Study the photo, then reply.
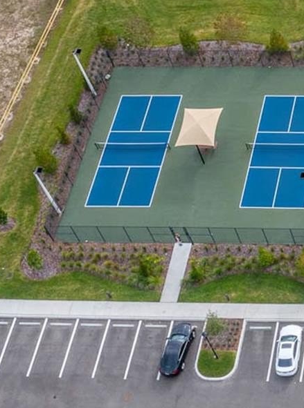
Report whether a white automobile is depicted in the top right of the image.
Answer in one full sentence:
No, no white automobile is visible in the top right of the image.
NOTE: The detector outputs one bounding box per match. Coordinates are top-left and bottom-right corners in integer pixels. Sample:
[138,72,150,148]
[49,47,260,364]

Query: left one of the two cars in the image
[158,322,196,378]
